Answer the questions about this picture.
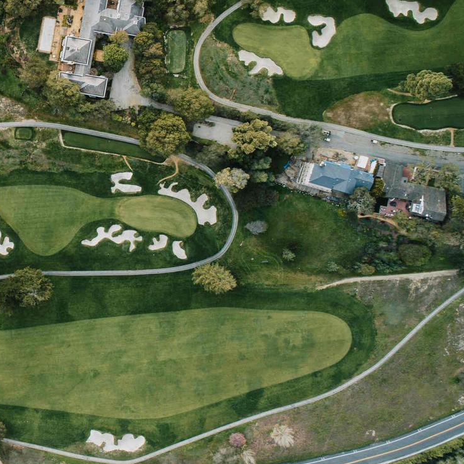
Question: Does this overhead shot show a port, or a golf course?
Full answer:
It's a golf course.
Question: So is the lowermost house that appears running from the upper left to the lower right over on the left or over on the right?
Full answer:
The lowermost house that appears running from the upper left to the lower right sits on the right side.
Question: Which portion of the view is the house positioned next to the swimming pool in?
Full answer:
The house positioned next to the swimming pool sits in the top left section of the image.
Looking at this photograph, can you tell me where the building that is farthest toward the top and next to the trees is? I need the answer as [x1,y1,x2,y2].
[60,0,146,96]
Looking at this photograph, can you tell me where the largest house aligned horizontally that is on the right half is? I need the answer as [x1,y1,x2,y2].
[308,162,374,195]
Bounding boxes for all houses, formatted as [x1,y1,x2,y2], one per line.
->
[60,0,146,96]
[379,162,447,217]
[308,162,374,195]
